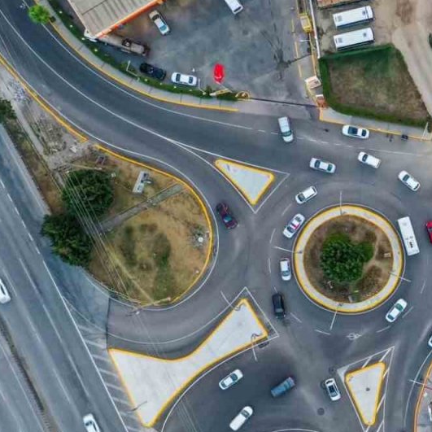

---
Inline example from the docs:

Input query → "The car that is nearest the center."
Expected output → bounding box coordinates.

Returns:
[214,200,238,230]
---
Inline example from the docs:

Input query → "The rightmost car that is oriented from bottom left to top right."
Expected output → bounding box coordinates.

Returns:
[382,297,409,324]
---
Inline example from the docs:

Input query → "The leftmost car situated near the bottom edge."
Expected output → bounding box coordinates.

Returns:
[81,413,105,432]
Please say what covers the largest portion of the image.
paved ground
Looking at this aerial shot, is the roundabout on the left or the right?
right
